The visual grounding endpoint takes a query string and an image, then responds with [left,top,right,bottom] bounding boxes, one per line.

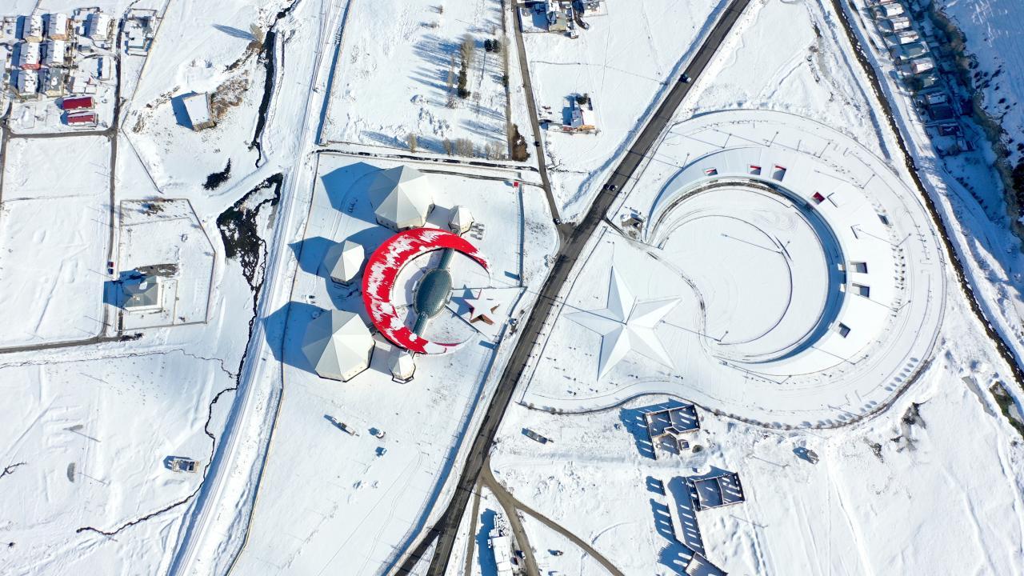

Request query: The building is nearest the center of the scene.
[463,289,499,326]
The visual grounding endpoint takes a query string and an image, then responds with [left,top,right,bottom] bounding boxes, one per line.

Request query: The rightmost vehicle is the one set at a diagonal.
[797,447,818,464]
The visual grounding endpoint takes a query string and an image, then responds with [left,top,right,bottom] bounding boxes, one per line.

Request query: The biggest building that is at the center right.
[641,144,899,379]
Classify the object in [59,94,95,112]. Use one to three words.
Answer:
barn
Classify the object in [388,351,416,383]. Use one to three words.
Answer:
building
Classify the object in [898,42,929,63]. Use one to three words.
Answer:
house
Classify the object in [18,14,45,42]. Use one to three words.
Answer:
house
